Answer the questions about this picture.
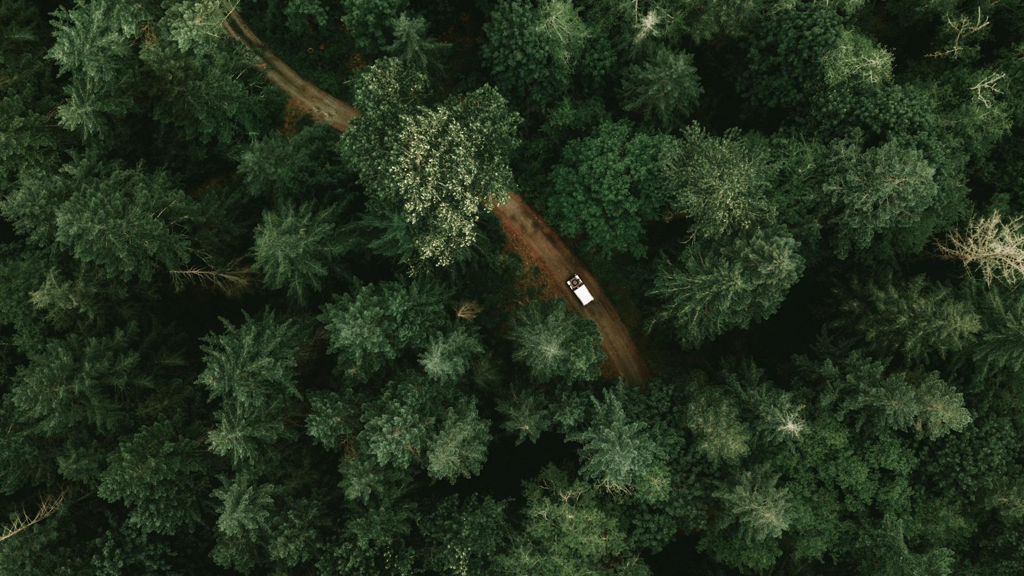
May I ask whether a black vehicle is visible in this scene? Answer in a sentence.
No, there is no black vehicle in the image.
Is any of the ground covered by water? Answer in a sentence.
No, the picture contains no water.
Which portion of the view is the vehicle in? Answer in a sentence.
Look in the center portion of the view to spot the vehicle.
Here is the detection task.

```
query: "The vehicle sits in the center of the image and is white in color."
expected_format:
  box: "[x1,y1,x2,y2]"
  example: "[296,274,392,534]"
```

[567,274,594,306]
